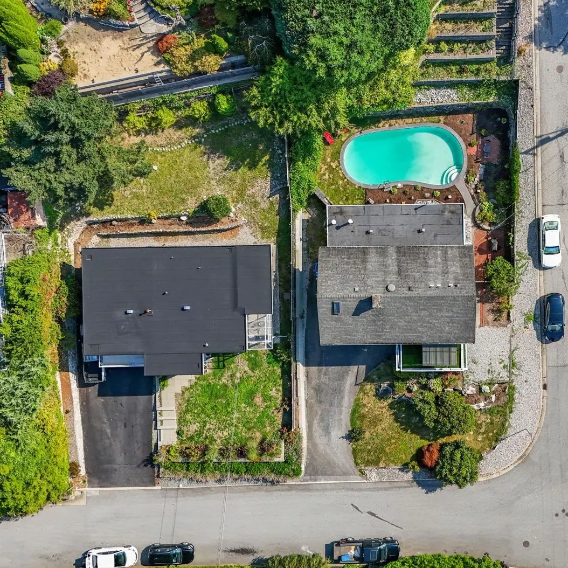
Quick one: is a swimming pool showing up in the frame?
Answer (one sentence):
Yes, I can see a swimming pool in this picture.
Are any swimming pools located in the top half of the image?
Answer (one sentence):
Yes, a swimming pool is visible in the top half of the image.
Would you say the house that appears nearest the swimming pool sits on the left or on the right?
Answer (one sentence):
You can find the house that appears nearest the swimming pool on the right side of the picture.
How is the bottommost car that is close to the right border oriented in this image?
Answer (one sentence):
The bottommost car that is close to the right border has been laid out vertically relative to the frame.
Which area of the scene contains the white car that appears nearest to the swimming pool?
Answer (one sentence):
The white car that appears nearest to the swimming pool appears toward the right of the photo.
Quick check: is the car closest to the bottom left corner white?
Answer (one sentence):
Yes, the car closest to the bottom left corner is white.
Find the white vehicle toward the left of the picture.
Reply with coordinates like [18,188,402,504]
[87,543,139,568]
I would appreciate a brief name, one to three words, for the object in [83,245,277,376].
house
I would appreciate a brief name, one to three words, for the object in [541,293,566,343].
car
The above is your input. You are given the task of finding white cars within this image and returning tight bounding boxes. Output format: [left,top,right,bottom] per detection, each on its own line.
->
[539,213,564,269]
[87,543,139,568]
